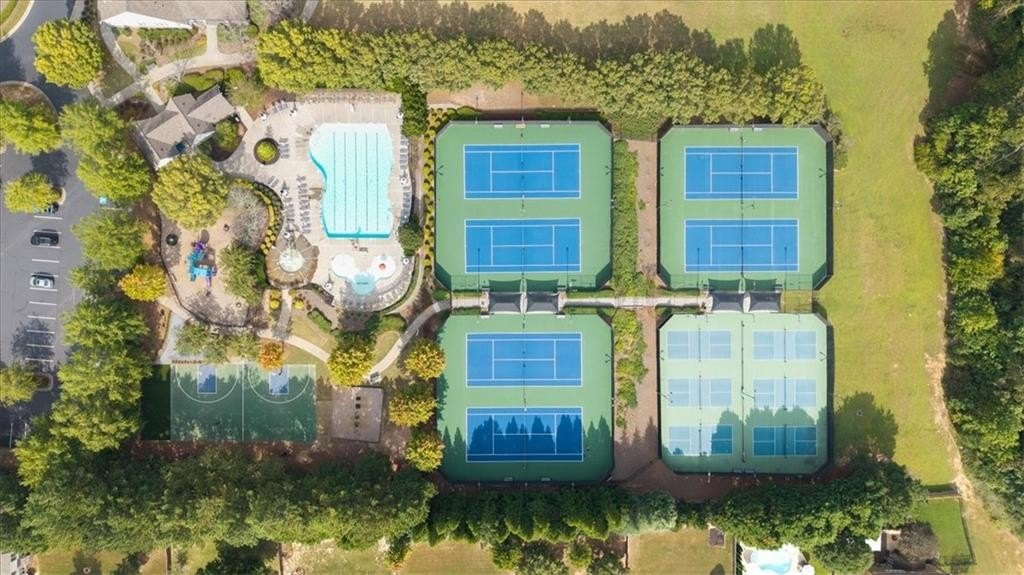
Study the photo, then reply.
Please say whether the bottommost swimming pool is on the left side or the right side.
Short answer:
right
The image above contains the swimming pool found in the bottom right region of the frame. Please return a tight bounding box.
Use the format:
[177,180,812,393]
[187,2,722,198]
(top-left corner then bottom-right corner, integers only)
[751,547,794,575]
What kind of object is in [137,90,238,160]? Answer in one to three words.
building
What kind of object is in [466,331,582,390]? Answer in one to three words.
tennis court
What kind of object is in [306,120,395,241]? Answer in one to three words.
swimming pool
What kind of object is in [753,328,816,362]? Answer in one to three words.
sports court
